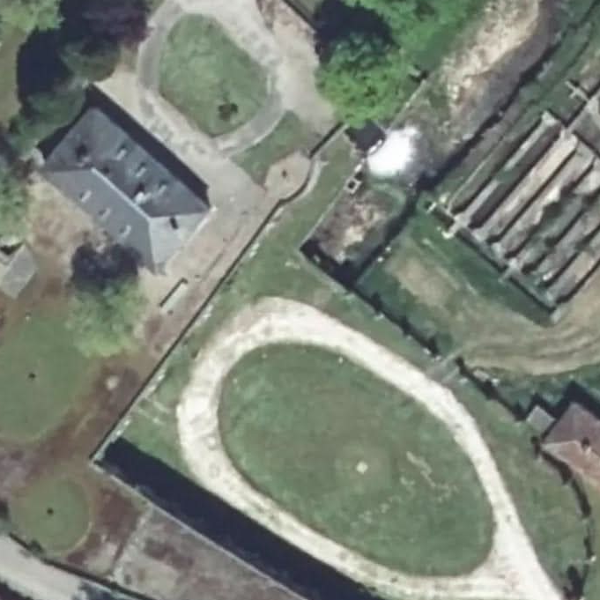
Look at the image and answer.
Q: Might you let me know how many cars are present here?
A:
0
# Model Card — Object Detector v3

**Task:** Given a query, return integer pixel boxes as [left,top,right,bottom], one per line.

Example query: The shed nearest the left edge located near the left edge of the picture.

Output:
[0,240,35,298]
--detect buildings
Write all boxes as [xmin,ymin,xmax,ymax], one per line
[541,402,600,488]
[0,240,35,298]
[527,408,558,435]
[41,105,213,269]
